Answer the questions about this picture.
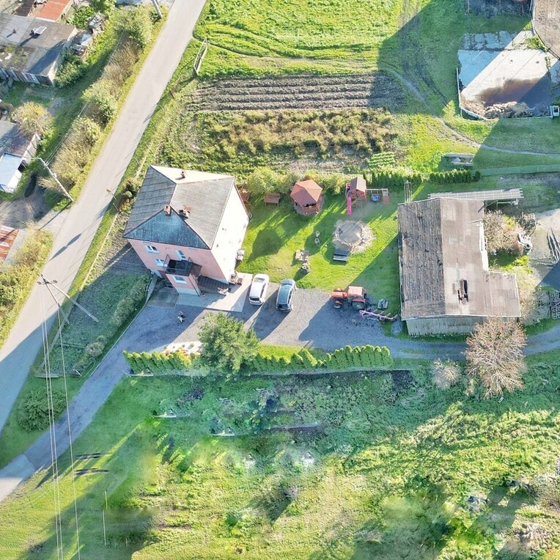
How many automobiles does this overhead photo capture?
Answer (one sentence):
Altogether the scene contains 2 automobiles.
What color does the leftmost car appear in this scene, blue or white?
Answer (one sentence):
From above, the leftmost car appears white.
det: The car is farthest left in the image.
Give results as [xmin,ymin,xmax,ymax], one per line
[246,276,267,305]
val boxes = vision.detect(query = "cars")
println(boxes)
[246,276,267,305]
[274,281,295,311]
